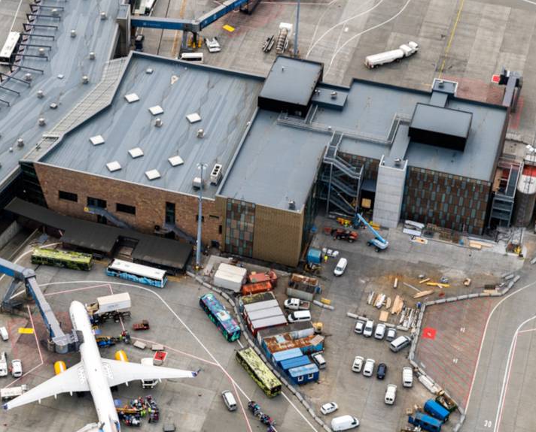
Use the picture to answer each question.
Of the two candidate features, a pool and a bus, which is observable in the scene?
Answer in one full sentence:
I can see a bus in this picture.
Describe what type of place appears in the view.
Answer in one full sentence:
This looks like an airport.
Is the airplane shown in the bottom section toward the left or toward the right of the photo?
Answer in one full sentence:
It is on the left.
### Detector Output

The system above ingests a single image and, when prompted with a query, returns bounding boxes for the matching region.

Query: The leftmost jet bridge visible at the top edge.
[134,0,263,47]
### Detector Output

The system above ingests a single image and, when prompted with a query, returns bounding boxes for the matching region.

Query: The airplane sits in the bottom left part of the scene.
[5,301,197,432]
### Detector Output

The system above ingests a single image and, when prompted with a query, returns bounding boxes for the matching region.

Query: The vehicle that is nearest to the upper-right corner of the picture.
[364,46,417,69]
